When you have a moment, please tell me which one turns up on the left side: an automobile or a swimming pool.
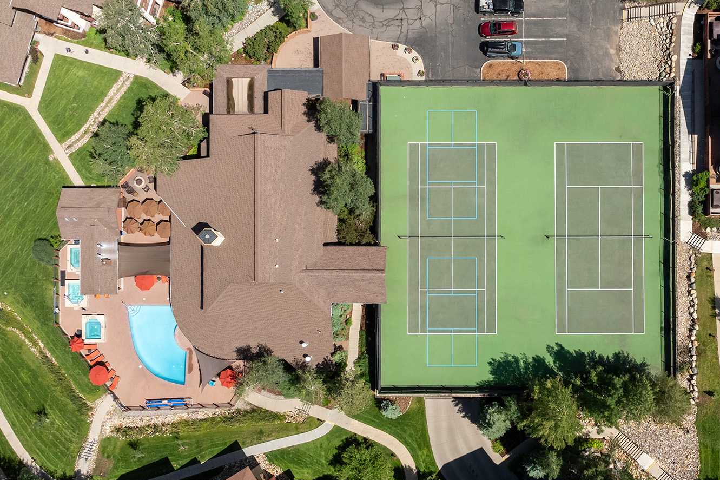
swimming pool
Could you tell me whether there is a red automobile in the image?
Yes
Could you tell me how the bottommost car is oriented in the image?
from left to right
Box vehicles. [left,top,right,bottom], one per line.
[478,0,524,14]
[479,17,517,38]
[481,38,521,58]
